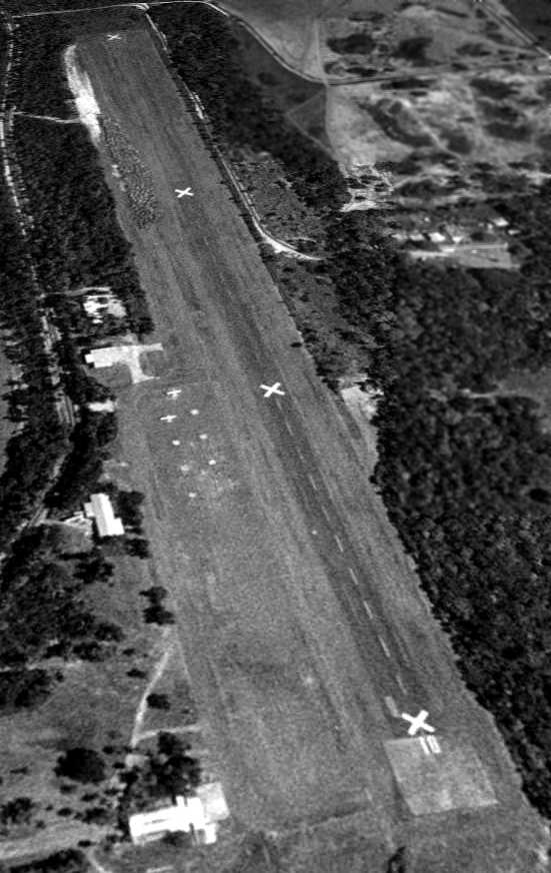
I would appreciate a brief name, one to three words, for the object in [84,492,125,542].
shed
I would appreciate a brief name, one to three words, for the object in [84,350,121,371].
hangar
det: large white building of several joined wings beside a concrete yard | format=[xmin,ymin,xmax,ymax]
[128,793,218,847]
